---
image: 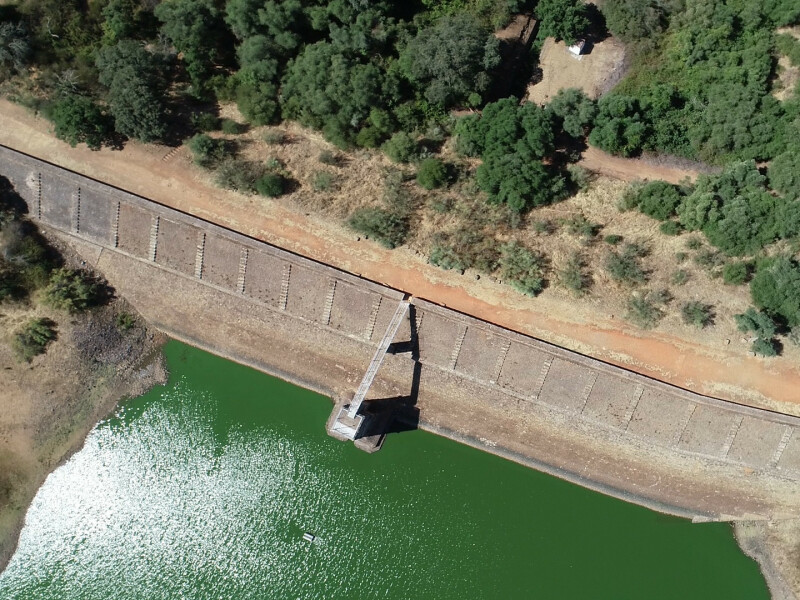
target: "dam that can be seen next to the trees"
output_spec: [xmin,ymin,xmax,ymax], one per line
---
[0,147,800,529]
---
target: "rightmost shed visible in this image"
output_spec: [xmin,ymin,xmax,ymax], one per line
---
[566,34,588,62]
